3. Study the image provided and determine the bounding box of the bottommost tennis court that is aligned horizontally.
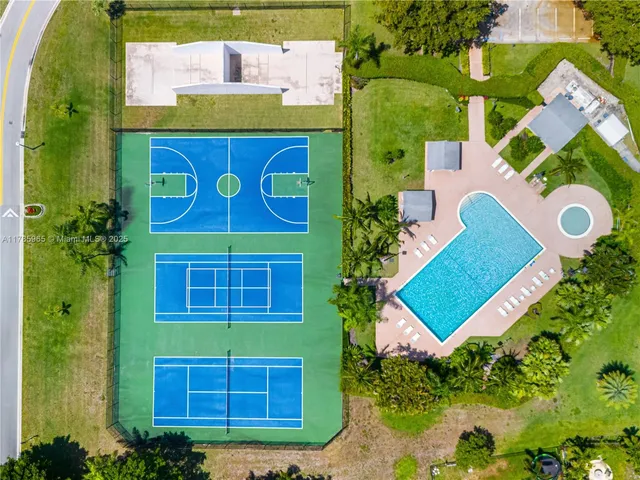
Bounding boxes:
[152,356,303,429]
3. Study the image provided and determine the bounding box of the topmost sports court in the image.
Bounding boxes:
[126,39,342,106]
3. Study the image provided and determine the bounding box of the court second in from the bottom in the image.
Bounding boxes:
[154,252,303,323]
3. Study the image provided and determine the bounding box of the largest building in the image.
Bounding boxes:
[524,92,589,154]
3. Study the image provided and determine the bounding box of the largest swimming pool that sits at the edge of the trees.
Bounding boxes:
[395,191,545,343]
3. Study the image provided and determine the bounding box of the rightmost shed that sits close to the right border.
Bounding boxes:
[591,114,628,148]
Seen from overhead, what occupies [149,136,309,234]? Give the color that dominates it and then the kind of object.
blue basketball court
